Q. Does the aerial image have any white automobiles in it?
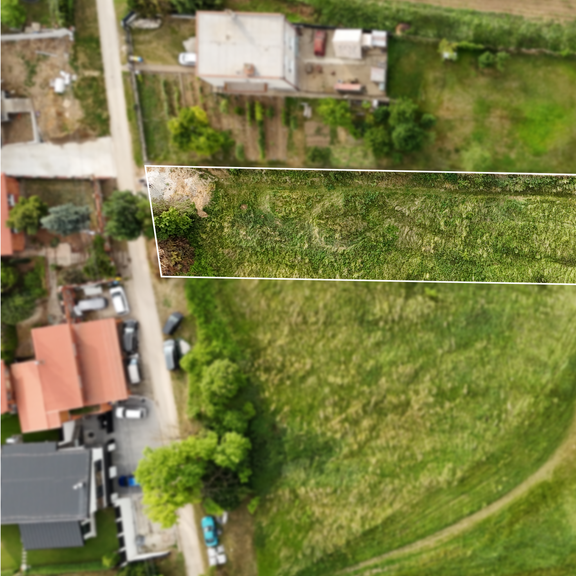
Yes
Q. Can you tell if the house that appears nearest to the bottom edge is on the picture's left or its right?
left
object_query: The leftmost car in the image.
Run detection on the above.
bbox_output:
[78,298,109,312]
